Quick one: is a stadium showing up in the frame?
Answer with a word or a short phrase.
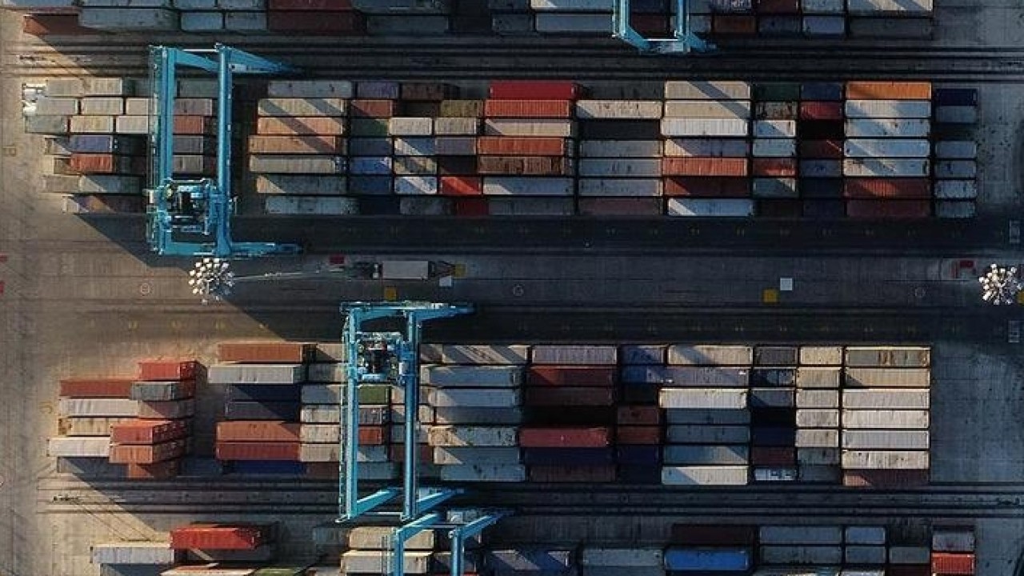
No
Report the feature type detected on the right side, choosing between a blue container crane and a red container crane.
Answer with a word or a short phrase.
blue container crane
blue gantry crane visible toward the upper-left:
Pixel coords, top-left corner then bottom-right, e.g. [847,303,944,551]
[146,42,304,259]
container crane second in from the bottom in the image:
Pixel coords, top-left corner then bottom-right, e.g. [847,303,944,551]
[336,299,476,523]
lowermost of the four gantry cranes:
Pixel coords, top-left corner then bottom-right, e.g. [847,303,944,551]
[383,507,516,576]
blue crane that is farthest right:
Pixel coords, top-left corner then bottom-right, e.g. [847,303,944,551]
[610,0,722,55]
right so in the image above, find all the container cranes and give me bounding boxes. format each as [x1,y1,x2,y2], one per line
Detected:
[610,0,722,55]
[336,299,476,523]
[383,507,516,576]
[146,42,304,259]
